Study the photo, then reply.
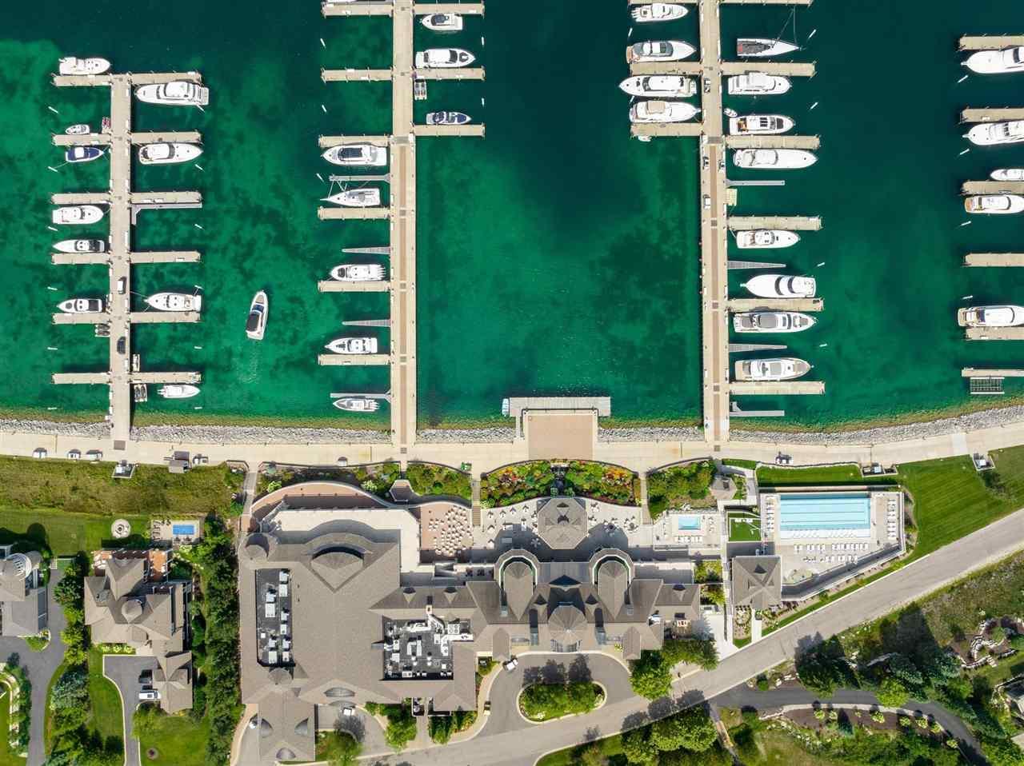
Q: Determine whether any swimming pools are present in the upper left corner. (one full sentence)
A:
No, no swimming pool can be made out in the upper left corner.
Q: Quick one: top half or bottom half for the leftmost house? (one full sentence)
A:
The leftmost house sits in the bottom half of the picture.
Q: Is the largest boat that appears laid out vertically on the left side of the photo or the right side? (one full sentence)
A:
It is on the left.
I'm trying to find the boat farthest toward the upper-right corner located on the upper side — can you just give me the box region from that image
[963,47,1024,76]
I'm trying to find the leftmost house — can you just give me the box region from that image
[0,542,52,638]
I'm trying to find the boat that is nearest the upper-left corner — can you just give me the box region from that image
[60,57,112,75]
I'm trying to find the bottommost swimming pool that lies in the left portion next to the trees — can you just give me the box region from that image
[151,519,200,545]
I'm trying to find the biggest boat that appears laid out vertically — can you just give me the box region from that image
[246,291,268,340]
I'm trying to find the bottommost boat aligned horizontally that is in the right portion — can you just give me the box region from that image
[734,357,814,381]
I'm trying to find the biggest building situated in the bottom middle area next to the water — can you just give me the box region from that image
[238,494,700,762]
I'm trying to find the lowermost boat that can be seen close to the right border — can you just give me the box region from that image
[955,304,1024,328]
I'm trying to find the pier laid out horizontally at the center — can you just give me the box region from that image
[509,397,610,433]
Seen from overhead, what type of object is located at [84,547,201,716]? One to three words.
house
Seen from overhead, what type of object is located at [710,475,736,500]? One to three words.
building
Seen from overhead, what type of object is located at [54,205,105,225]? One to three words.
boat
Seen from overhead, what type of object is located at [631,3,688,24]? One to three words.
boat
